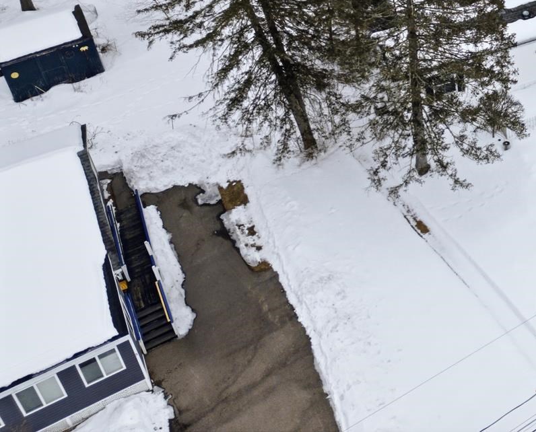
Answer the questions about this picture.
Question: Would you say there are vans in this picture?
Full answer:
No, the scene contains no van.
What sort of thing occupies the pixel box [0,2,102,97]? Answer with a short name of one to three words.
shed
